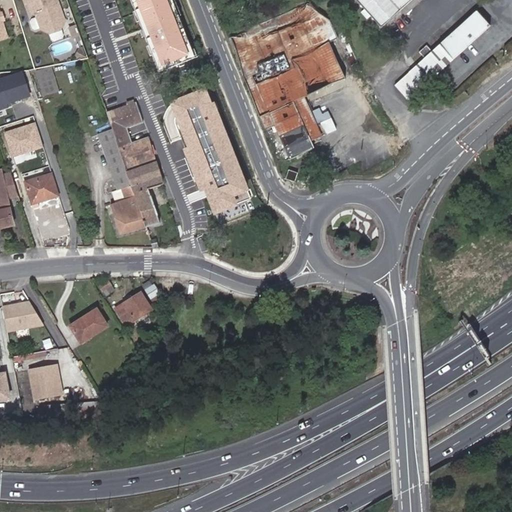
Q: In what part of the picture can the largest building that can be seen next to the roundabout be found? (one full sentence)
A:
The largest building that can be seen next to the roundabout is in the top part of the image.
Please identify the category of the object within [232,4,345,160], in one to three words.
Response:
building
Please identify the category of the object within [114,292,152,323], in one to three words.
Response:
house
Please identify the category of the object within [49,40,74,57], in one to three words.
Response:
swimming pool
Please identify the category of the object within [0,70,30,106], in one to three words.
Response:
house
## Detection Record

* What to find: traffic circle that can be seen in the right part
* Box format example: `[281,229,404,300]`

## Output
[298,180,411,440]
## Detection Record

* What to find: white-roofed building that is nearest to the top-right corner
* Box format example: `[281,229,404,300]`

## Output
[441,10,491,62]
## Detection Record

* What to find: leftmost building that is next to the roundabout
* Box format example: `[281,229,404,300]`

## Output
[164,90,254,221]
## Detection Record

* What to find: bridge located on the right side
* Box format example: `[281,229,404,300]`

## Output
[383,310,430,512]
